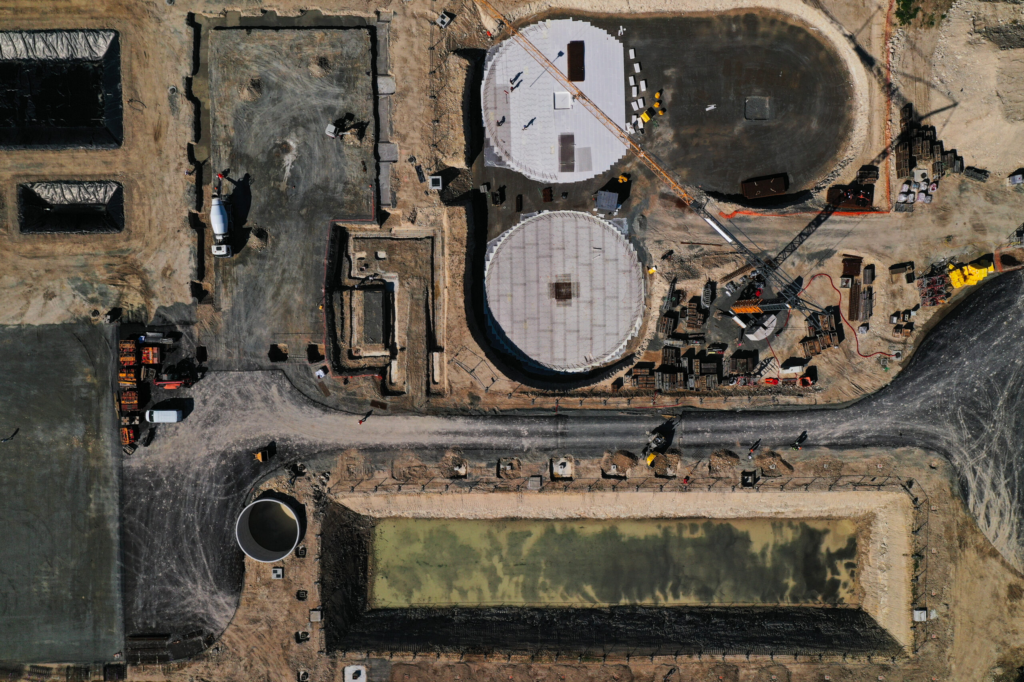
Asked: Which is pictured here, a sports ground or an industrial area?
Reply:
industrial area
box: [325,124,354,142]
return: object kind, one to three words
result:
work vehicle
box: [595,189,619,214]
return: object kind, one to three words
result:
shed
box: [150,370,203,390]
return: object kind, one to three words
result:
work vehicle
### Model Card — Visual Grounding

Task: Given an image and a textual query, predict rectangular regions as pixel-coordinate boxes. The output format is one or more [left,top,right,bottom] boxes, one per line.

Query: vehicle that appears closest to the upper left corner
[212,177,236,259]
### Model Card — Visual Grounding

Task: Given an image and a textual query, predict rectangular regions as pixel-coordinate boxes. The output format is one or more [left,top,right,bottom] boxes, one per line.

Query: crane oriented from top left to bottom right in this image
[483,0,831,342]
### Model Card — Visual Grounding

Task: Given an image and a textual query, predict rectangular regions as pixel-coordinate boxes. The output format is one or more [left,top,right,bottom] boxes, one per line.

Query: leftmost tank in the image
[236,496,303,563]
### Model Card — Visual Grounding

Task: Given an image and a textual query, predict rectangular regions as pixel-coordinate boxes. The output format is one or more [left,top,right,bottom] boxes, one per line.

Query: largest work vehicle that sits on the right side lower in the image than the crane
[647,428,665,462]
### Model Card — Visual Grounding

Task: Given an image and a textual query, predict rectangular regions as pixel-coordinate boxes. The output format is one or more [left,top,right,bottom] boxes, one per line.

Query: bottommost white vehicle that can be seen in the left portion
[149,407,189,424]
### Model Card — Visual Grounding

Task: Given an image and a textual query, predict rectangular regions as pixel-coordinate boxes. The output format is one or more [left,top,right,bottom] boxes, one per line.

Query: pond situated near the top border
[0,29,123,150]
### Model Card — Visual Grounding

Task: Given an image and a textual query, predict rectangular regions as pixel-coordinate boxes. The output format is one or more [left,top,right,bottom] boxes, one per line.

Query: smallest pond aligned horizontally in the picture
[19,182,126,233]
